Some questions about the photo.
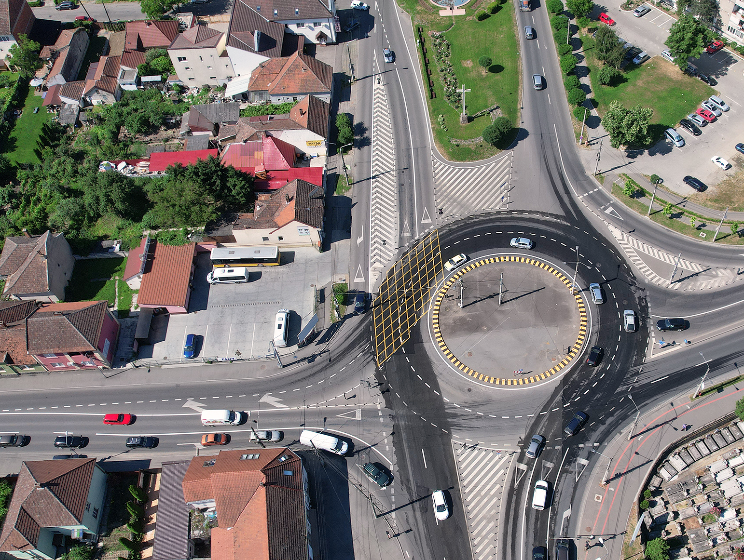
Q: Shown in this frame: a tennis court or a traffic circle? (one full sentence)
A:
There is a traffic circle in the scene.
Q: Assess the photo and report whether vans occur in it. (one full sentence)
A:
Yes, the photo shows a van.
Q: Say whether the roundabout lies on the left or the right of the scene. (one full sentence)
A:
The roundabout is on the right side of the image.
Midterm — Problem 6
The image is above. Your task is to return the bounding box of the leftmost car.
[0,434,27,449]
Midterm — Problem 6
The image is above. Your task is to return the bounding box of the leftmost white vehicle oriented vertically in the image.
[272,307,290,348]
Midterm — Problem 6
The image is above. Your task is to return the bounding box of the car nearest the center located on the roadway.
[354,290,368,316]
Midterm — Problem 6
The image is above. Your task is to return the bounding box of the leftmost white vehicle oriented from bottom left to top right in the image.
[443,253,468,272]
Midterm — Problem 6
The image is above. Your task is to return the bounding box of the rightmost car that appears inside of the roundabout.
[624,309,637,334]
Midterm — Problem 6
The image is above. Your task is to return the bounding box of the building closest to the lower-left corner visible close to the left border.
[0,459,107,558]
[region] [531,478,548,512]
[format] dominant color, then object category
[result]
white car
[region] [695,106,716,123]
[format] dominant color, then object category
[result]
red car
